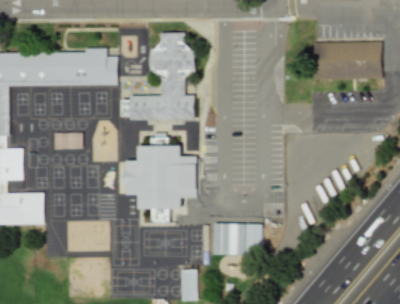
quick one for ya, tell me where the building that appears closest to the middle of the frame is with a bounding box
[125,146,198,208]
